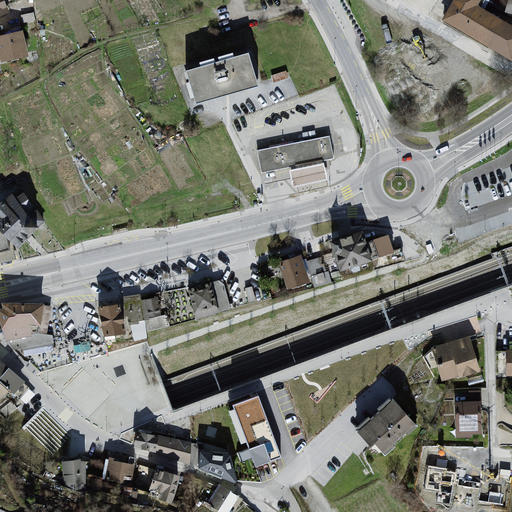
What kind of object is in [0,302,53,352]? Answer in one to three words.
house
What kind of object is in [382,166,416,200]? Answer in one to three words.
roundabout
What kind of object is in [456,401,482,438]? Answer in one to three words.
house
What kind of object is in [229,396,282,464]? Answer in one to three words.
building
